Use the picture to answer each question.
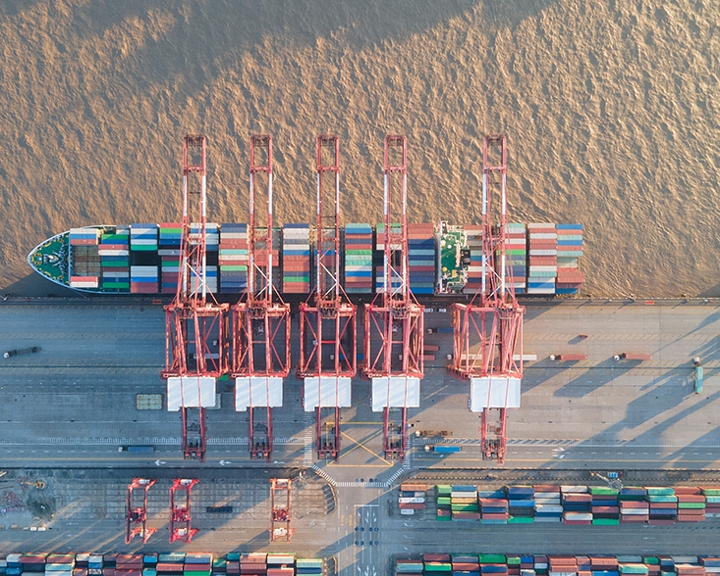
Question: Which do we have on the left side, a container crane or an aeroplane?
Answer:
container crane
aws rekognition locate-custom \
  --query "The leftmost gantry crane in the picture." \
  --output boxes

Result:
[125,477,158,543]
